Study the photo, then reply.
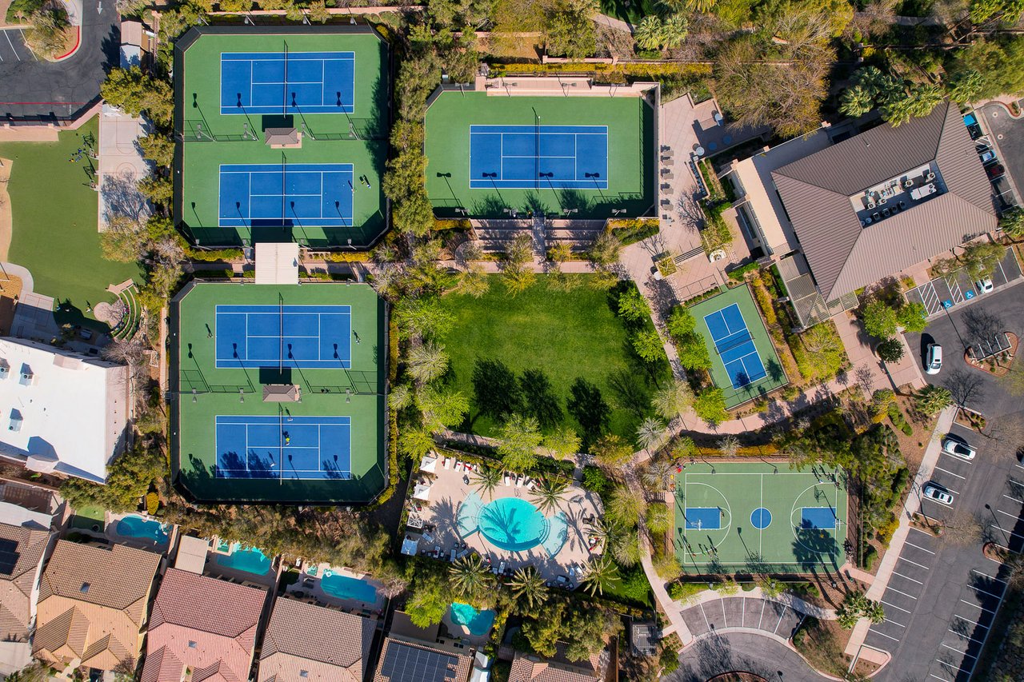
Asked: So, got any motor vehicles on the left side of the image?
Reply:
No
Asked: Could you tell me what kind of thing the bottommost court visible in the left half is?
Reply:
tennis court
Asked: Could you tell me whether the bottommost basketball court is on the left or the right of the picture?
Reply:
right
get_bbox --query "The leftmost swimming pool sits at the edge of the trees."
[114,513,171,547]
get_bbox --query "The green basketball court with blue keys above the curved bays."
[674,462,848,575]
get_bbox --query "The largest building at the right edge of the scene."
[712,97,999,303]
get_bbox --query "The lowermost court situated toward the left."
[180,392,387,501]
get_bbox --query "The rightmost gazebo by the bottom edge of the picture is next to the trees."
[630,620,657,655]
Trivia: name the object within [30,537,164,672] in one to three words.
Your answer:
house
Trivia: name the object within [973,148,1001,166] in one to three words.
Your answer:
car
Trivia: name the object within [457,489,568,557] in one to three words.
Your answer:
swimming pool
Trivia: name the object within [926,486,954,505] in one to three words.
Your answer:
car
